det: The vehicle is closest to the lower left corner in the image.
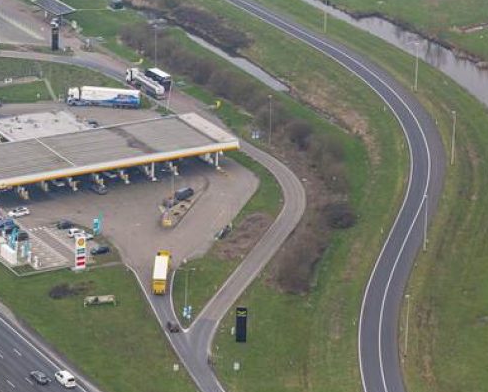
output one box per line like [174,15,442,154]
[31,372,49,385]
